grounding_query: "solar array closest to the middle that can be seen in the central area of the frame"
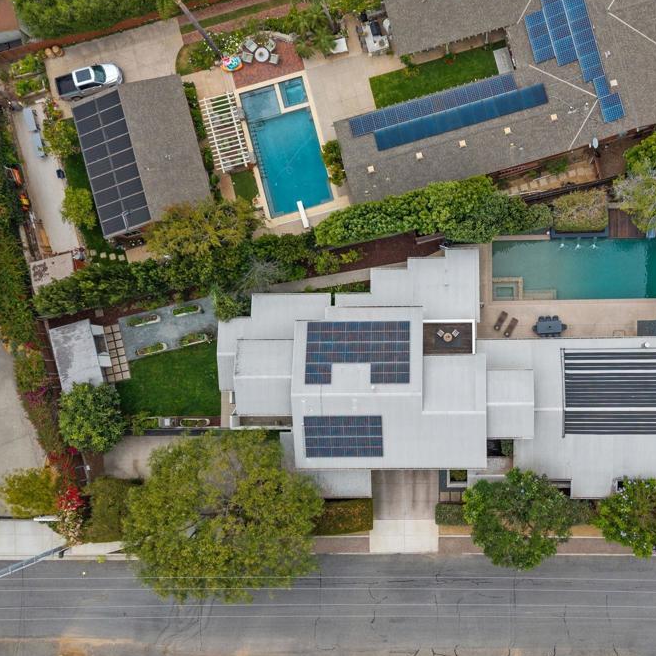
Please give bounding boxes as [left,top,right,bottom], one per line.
[305,322,410,384]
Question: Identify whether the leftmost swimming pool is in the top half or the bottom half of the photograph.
top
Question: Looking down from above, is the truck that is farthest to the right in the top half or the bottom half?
top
